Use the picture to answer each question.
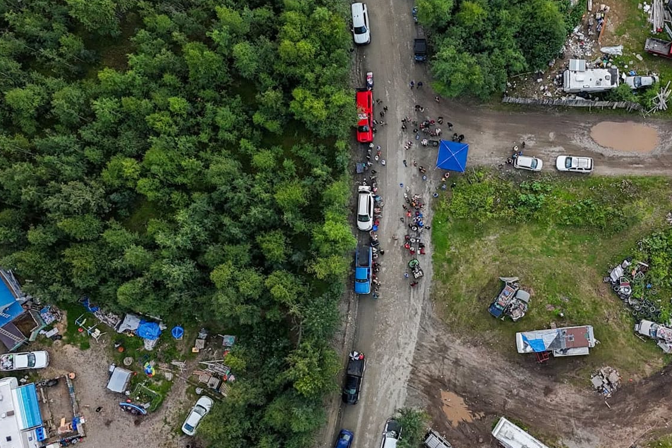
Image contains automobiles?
Yes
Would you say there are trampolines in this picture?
No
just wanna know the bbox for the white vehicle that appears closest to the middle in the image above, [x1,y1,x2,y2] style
[355,189,375,230]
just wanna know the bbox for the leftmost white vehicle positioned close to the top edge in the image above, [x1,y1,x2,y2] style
[351,3,372,47]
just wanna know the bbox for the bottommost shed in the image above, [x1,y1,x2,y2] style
[107,367,137,393]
